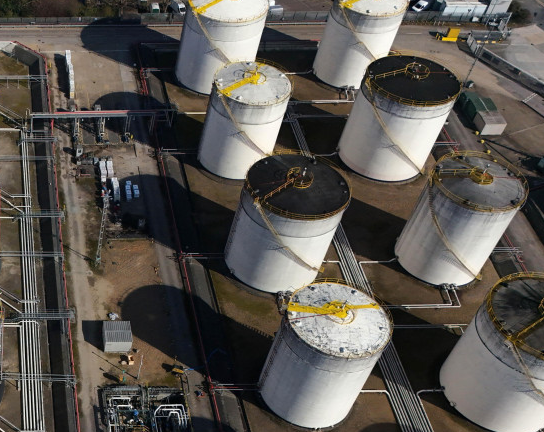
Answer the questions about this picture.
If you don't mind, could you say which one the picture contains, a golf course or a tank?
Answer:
tank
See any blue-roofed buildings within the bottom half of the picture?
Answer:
No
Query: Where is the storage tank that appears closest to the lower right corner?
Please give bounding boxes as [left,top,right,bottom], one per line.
[420,271,544,432]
